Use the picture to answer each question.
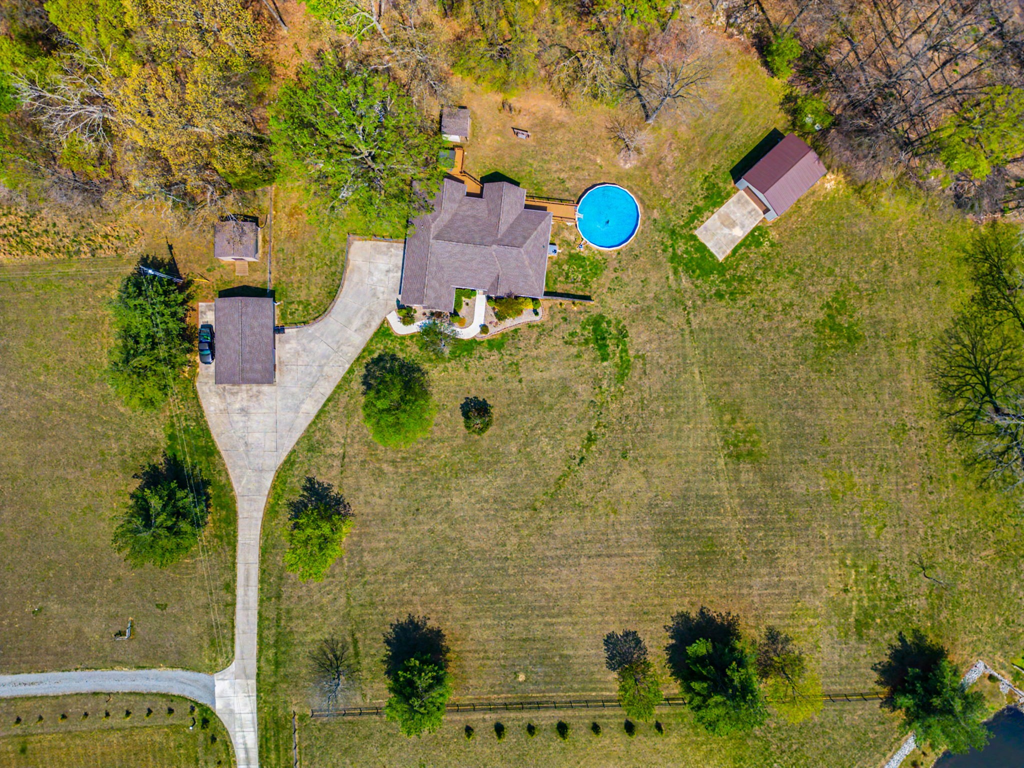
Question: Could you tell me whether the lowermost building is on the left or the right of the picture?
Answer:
left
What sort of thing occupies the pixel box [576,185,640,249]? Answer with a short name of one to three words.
swimming pool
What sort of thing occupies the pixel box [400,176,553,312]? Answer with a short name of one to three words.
house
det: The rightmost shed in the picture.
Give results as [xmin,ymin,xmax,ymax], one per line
[739,133,827,219]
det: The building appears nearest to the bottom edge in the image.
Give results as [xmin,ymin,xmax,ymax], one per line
[214,297,284,384]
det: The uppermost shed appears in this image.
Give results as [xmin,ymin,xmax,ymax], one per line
[441,107,469,146]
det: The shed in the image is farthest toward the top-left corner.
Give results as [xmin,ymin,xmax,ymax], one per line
[215,221,262,259]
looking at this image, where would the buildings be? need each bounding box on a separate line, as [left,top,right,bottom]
[214,297,284,384]
[215,221,262,259]
[441,107,469,146]
[400,176,553,312]
[739,133,827,219]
